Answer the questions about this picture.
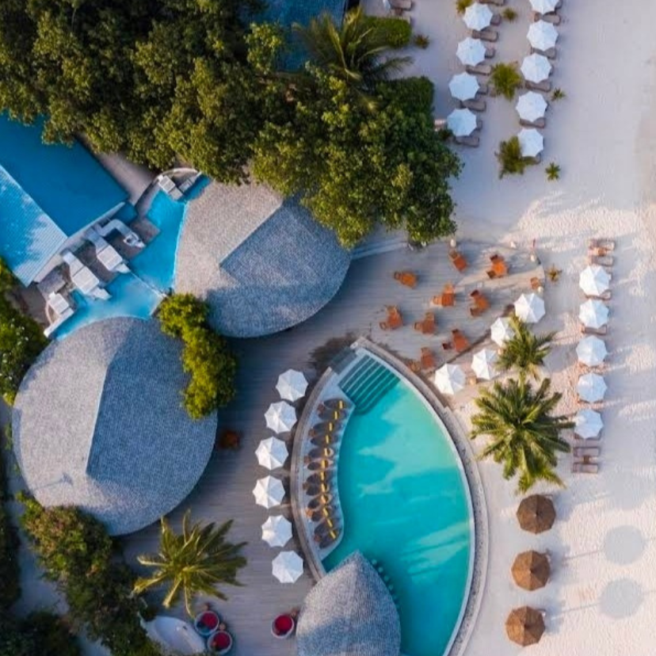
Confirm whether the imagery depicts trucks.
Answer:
No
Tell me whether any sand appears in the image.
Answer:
Yes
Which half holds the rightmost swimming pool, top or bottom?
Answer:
bottom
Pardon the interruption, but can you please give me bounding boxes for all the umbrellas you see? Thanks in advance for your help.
[446,107,477,137]
[577,334,607,366]
[517,92,547,123]
[527,22,557,52]
[505,605,546,646]
[276,369,309,402]
[516,492,556,533]
[265,401,297,432]
[572,408,604,438]
[259,438,289,468]
[488,316,518,347]
[469,347,500,380]
[254,475,284,505]
[434,363,466,394]
[579,300,610,329]
[529,0,560,17]
[510,549,550,590]
[447,70,480,102]
[579,265,611,296]
[513,291,545,323]
[462,2,492,34]
[272,549,303,581]
[456,36,486,65]
[517,129,545,157]
[261,516,293,547]
[576,373,606,403]
[522,53,553,84]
